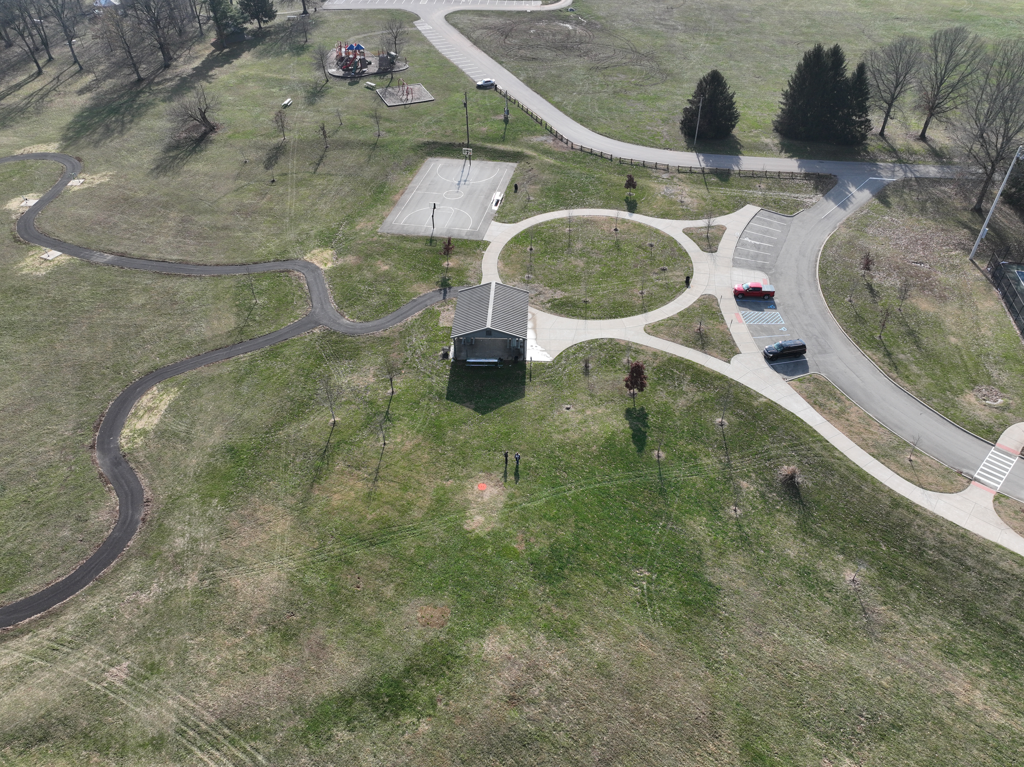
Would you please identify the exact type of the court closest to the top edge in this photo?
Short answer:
basketball court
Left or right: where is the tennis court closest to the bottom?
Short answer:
right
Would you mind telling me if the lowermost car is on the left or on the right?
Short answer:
right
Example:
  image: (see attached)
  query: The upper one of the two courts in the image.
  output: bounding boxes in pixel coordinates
[378,158,517,240]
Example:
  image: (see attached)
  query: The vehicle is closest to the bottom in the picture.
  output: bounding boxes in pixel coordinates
[761,338,808,361]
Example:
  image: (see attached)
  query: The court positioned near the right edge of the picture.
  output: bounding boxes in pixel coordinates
[988,263,1024,338]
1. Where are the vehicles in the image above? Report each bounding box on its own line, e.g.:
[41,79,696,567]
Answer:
[476,78,497,87]
[761,338,808,361]
[732,282,775,299]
